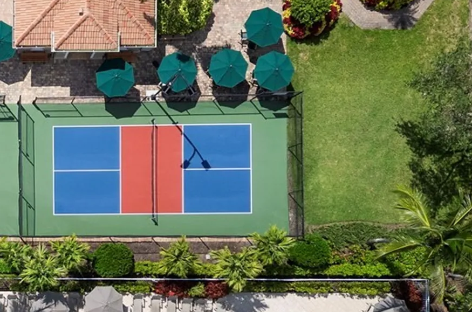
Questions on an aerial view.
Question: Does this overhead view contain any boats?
No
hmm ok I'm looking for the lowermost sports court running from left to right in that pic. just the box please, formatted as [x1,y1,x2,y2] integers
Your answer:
[19,101,289,235]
